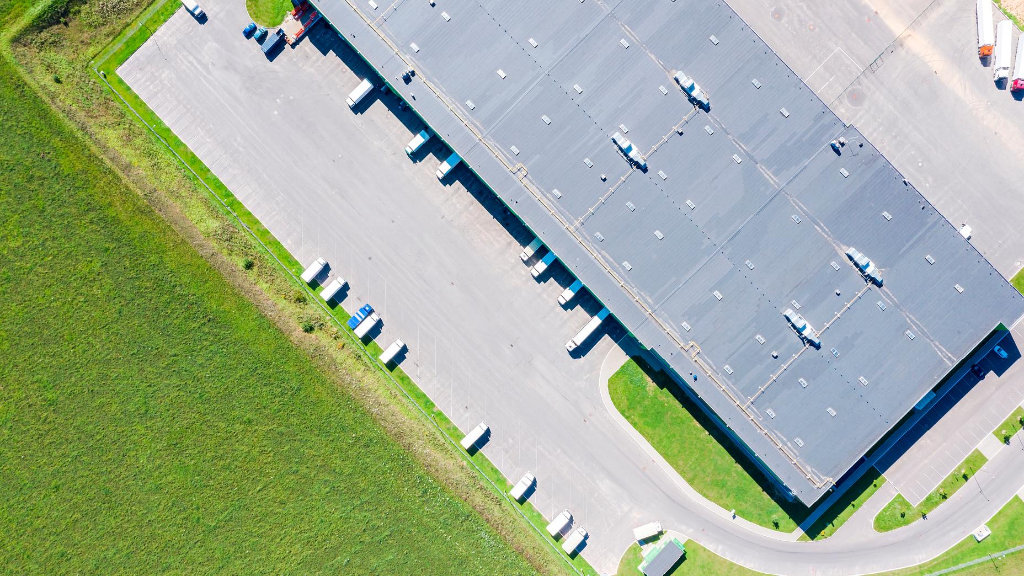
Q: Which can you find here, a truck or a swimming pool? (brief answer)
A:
truck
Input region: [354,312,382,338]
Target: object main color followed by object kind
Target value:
white truck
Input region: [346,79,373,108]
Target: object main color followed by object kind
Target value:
white truck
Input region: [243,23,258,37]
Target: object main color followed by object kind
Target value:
blue car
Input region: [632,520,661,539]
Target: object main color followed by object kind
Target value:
white vehicle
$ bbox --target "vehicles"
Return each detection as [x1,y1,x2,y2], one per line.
[181,0,205,18]
[557,280,582,304]
[435,153,460,180]
[379,337,406,364]
[562,524,587,553]
[546,507,572,535]
[957,221,973,237]
[320,275,348,301]
[404,130,431,157]
[346,79,373,108]
[301,256,329,282]
[632,520,661,539]
[243,23,258,37]
[283,35,294,45]
[565,307,609,352]
[993,345,1008,359]
[530,251,555,278]
[354,312,382,338]
[461,421,488,448]
[511,470,535,498]
[1012,33,1024,92]
[518,239,541,263]
[291,9,320,39]
[994,20,1014,80]
[254,26,268,39]
[978,0,996,58]
[971,365,985,379]
[261,28,287,55]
